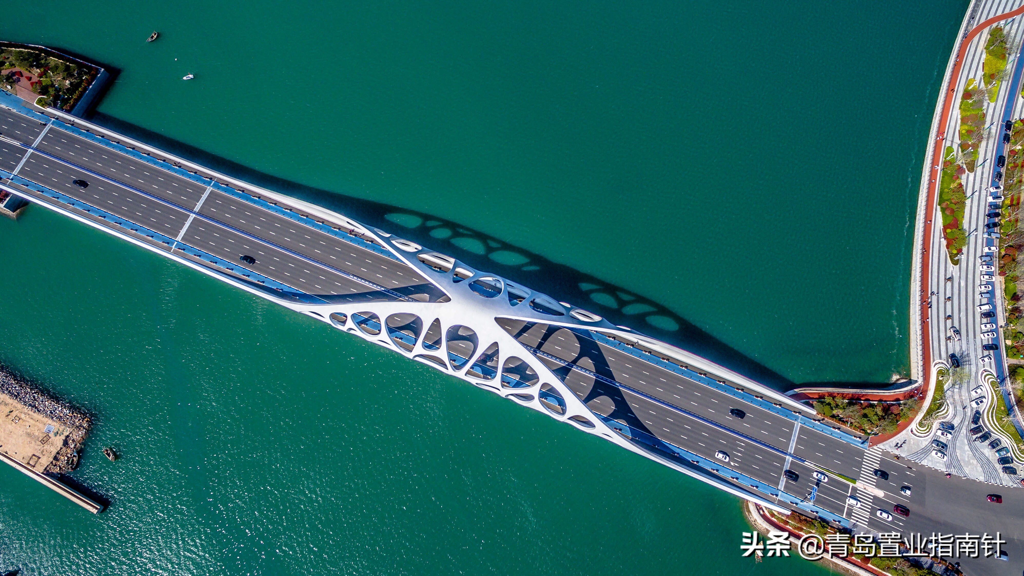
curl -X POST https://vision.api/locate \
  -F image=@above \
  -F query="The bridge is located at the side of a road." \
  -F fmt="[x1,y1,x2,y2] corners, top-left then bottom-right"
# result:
[0,102,869,527]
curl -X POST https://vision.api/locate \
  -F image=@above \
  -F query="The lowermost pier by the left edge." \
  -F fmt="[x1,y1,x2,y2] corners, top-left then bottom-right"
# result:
[0,449,111,513]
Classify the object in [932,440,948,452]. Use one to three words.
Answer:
vehicle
